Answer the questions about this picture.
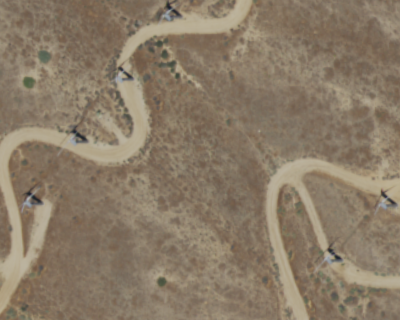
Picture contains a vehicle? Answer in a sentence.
No, the scene contains no vehicle.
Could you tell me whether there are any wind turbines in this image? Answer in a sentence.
Yes, I can see a wind turbine in this picture.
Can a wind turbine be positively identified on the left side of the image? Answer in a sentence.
Yes, the scene does show a wind turbine on the left side of the image.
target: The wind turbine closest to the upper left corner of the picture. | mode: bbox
[112,60,135,86]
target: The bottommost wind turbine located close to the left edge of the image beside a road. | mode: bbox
[18,184,44,212]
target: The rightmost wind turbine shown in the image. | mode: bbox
[374,188,398,216]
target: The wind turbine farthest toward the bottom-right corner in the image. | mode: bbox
[316,246,344,270]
